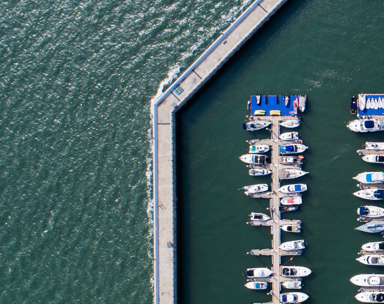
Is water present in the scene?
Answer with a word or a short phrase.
Yes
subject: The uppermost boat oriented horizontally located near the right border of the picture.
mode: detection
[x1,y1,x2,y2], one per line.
[347,119,384,131]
